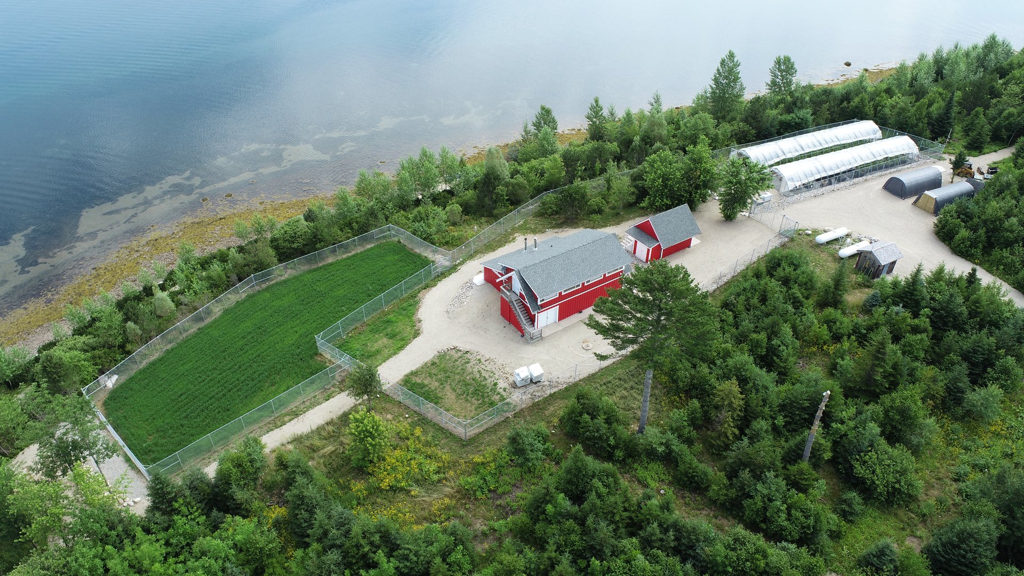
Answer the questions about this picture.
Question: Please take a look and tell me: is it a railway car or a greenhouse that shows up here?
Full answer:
I can see a greenhouse in this picture.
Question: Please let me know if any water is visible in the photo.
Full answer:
Yes, some water is visible.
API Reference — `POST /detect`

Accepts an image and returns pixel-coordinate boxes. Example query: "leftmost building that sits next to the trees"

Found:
[479,227,633,342]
